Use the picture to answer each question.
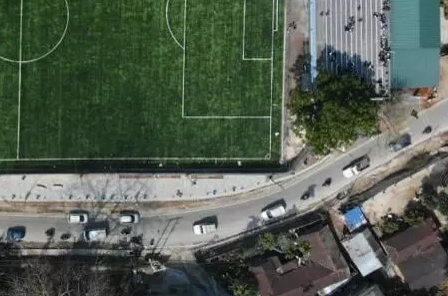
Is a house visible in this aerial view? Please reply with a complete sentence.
Yes, there's a house down there.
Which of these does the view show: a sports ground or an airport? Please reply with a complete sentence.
What you see here is a sports ground.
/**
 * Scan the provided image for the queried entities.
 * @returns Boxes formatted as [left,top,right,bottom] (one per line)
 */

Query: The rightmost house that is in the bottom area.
[378,217,448,289]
